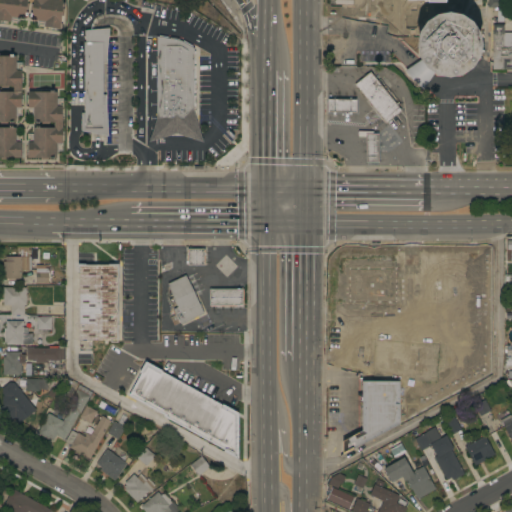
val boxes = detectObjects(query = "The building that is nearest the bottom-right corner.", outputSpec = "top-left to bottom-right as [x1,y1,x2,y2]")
[466,436,494,470]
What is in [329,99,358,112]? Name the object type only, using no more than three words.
building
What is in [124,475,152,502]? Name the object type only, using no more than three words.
house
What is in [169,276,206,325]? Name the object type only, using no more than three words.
building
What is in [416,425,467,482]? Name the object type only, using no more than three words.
house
